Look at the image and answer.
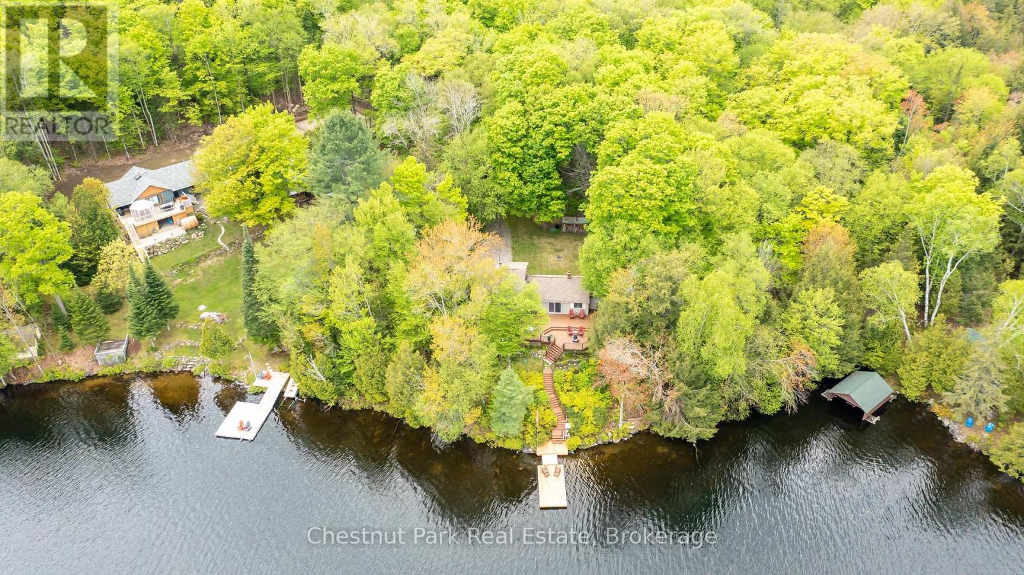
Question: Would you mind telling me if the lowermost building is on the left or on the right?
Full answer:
The lowermost building sits on the right side.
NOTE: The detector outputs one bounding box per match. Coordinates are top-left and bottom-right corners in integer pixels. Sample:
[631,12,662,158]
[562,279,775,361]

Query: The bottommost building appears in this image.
[821,372,894,441]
